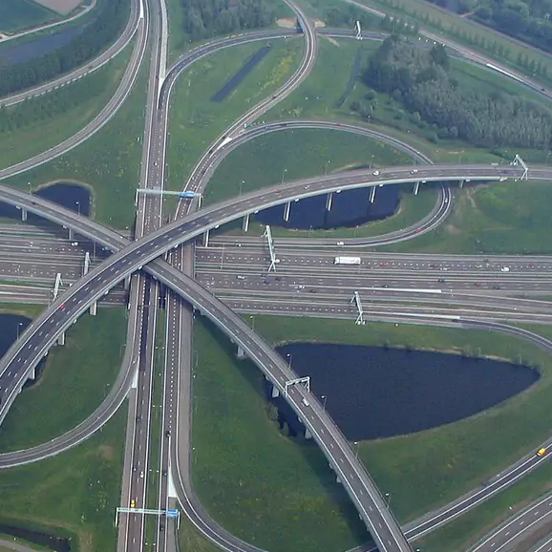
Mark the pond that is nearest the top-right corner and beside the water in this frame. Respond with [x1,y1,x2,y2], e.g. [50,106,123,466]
[251,165,401,231]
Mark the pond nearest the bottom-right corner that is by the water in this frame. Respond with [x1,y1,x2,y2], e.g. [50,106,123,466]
[264,343,540,442]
